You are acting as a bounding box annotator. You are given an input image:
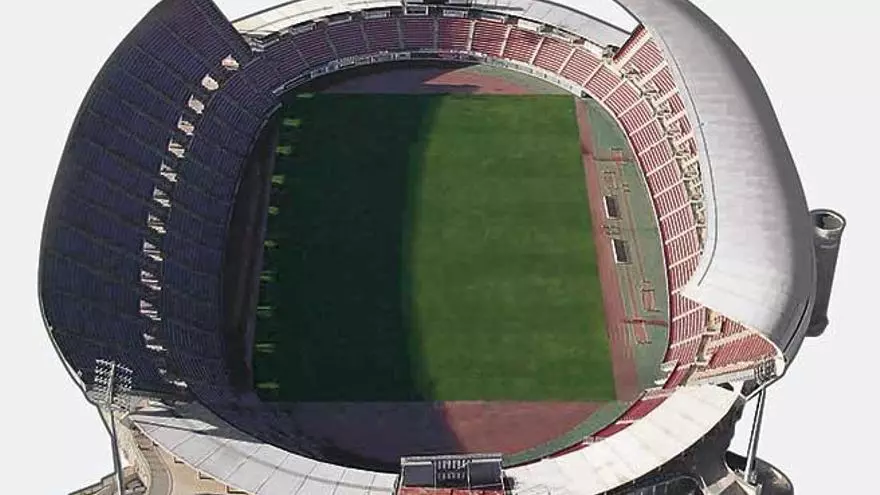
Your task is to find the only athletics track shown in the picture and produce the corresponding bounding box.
[226,60,668,459]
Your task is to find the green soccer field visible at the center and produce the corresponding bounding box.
[251,94,616,402]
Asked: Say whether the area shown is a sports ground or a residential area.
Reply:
sports ground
